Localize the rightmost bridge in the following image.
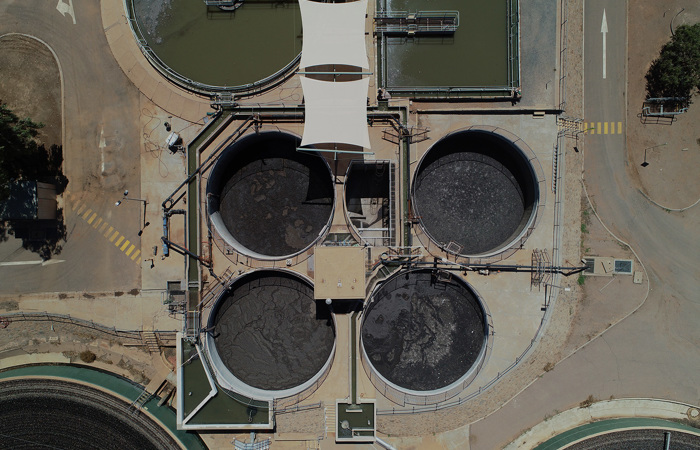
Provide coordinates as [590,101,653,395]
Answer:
[375,12,458,36]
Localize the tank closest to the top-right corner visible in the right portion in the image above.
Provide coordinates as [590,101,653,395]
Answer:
[412,127,546,258]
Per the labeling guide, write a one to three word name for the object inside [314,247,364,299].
building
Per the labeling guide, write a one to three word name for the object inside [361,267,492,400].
storage tank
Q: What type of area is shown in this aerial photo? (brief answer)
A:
industrial area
